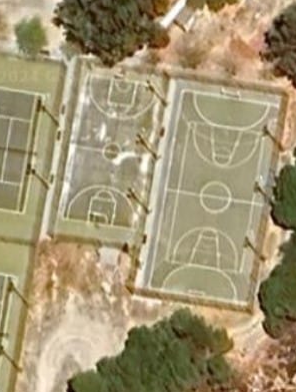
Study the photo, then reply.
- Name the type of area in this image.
sports ground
